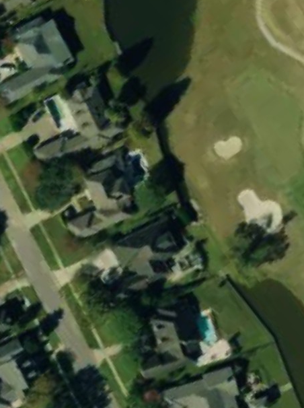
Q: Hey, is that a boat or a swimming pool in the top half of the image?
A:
swimming pool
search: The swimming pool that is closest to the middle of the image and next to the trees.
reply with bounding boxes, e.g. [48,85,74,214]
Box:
[126,150,148,184]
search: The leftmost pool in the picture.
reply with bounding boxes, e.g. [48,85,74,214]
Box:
[43,94,78,131]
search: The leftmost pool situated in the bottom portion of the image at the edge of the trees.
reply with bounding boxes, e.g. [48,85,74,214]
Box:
[197,307,232,367]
